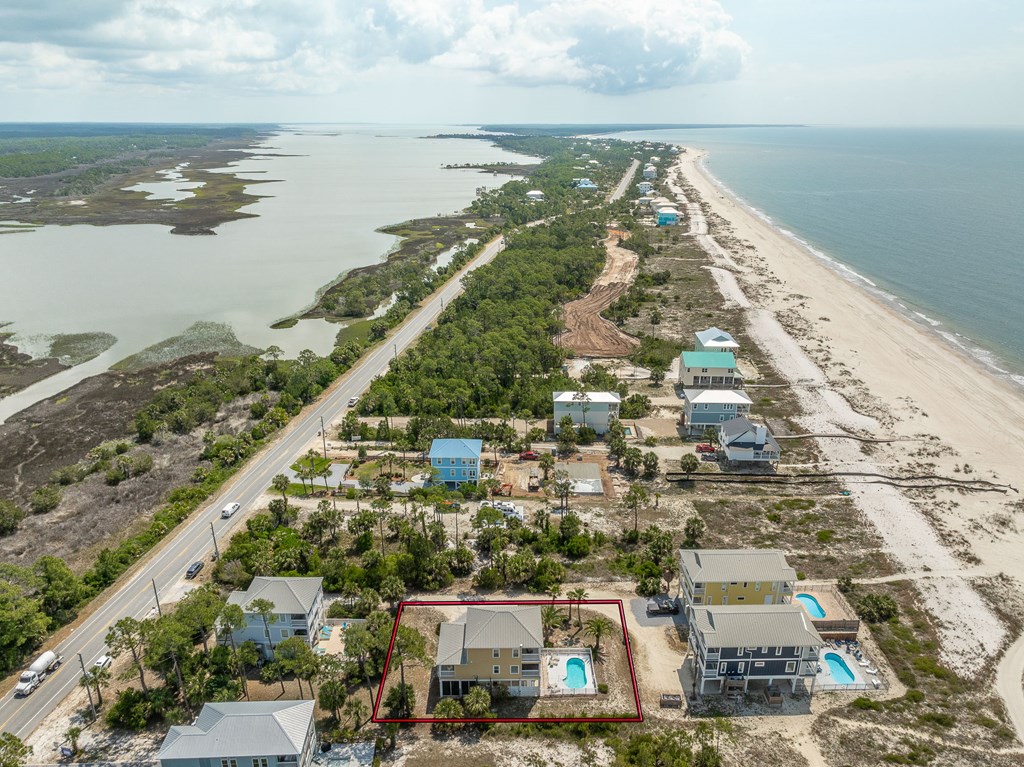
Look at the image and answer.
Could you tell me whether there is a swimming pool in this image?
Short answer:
Yes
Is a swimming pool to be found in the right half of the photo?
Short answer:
Yes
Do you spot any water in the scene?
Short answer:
Yes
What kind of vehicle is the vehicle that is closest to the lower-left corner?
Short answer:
truck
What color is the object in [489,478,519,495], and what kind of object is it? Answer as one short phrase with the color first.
red work vehicle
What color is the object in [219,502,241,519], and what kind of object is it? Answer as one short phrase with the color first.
white vehicle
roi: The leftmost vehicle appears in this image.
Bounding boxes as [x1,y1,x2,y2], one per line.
[9,652,68,701]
